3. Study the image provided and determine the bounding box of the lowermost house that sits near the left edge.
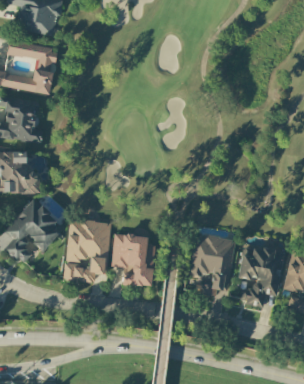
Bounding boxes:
[0,198,61,263]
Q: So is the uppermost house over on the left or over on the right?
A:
left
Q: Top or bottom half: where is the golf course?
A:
top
